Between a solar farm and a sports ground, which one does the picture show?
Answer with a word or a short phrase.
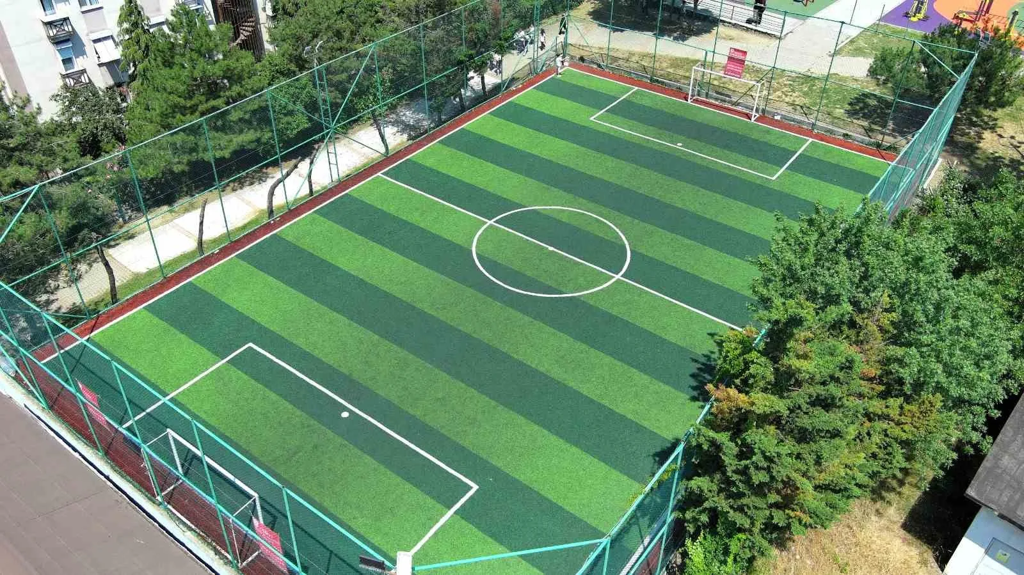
sports ground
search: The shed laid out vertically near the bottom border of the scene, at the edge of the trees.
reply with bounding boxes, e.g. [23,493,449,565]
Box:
[946,399,1024,575]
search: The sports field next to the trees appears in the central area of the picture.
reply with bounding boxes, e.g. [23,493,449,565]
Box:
[48,69,908,575]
